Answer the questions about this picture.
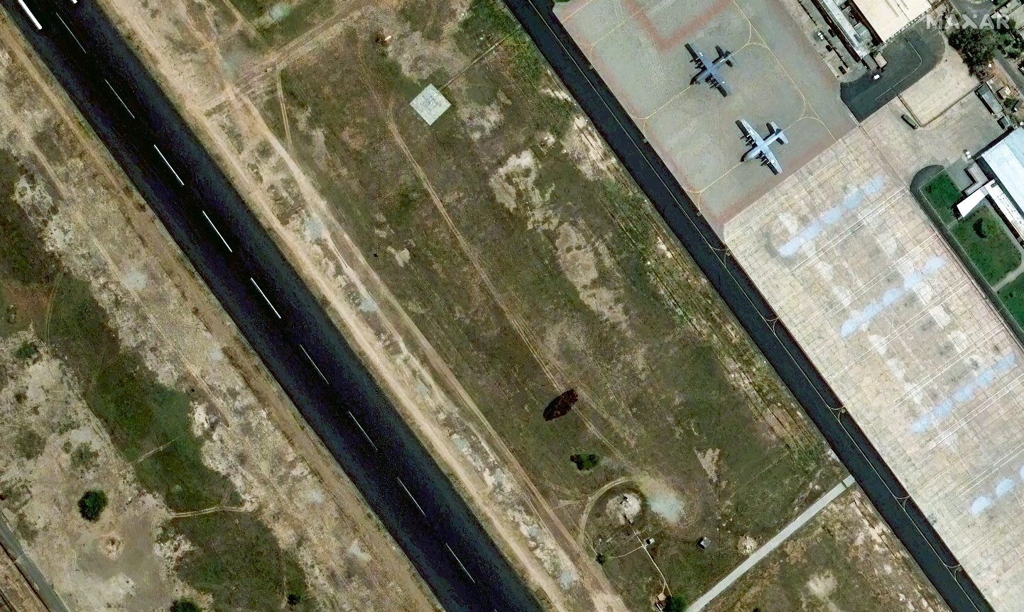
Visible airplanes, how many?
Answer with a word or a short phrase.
2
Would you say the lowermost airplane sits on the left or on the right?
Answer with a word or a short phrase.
right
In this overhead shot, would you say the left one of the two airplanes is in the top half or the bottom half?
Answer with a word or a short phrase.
top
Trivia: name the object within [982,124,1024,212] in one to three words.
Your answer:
building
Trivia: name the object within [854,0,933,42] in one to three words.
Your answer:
hangar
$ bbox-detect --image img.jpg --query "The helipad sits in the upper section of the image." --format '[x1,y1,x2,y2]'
[410,83,452,126]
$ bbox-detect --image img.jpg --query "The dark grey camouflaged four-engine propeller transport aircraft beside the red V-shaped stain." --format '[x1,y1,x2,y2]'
[690,42,740,96]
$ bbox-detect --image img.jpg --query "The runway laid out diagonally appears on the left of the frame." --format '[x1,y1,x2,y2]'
[0,0,547,612]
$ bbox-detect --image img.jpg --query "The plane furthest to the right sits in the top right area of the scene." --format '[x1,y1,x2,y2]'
[741,119,790,173]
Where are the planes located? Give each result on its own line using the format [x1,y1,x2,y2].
[741,119,790,173]
[690,42,740,96]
